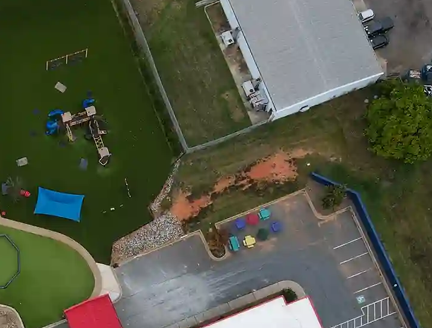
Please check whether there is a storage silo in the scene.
No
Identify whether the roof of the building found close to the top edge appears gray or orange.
gray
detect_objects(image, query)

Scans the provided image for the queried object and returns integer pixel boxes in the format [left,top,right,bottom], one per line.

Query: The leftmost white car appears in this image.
[358,6,379,23]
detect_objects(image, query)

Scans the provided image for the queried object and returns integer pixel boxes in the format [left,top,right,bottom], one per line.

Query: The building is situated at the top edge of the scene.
[218,0,383,119]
